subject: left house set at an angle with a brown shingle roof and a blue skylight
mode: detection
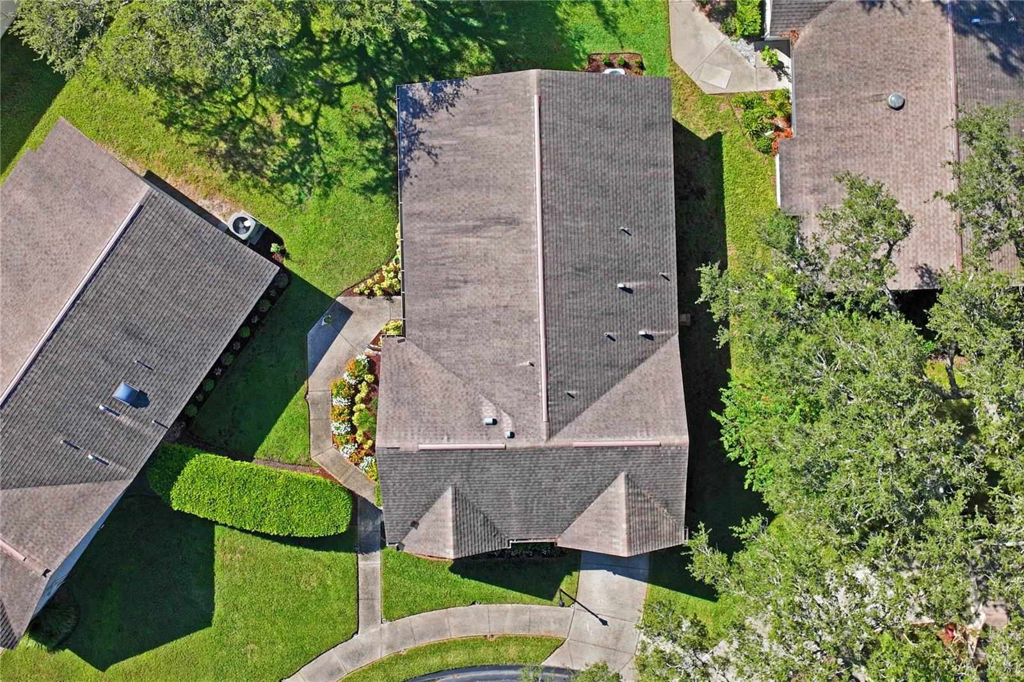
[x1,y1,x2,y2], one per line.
[0,116,280,654]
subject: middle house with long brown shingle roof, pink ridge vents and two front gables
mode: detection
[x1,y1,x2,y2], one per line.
[378,68,691,559]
